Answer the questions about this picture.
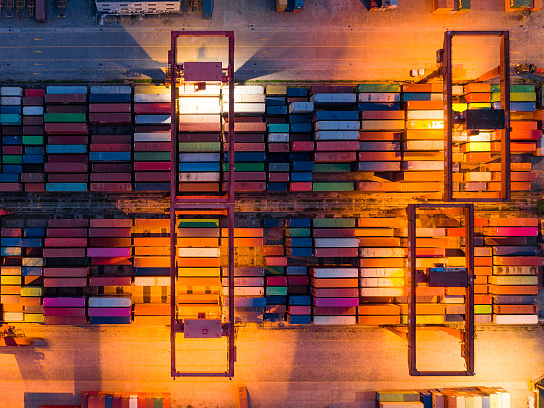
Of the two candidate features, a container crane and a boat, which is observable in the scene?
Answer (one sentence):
The image shows a container crane.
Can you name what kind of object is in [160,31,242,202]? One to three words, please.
container crane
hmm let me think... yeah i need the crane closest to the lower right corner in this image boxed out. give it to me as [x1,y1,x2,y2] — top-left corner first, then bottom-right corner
[374,204,476,376]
